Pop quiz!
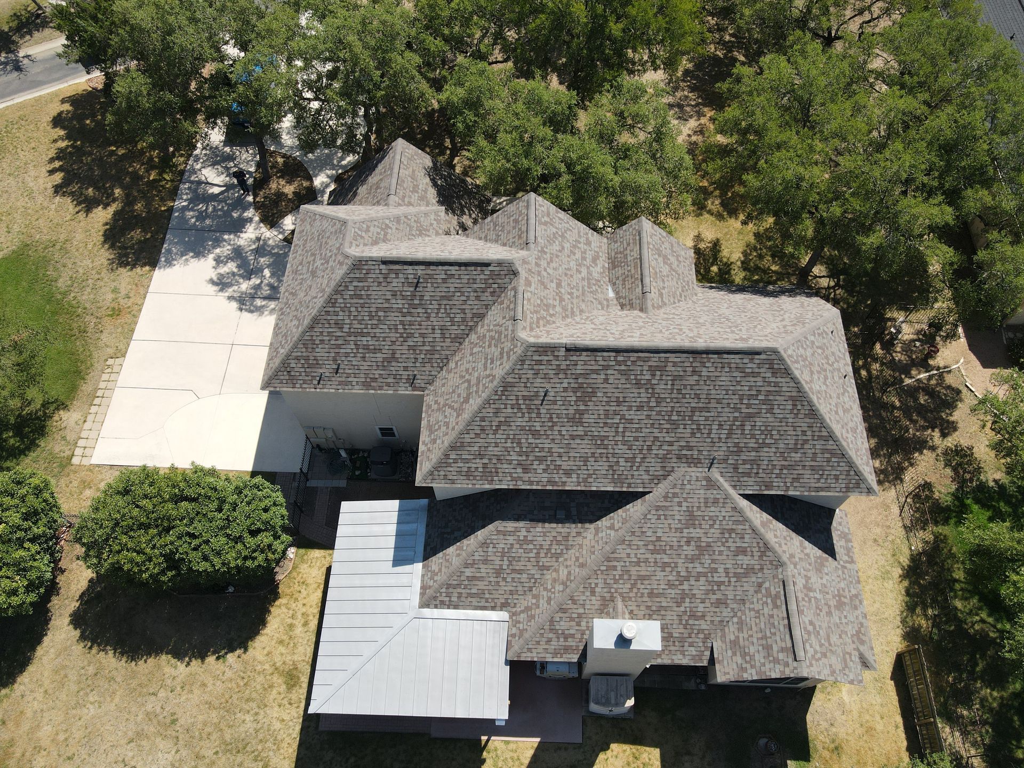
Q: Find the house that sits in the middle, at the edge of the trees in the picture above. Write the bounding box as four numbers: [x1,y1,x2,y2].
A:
[260,139,878,725]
